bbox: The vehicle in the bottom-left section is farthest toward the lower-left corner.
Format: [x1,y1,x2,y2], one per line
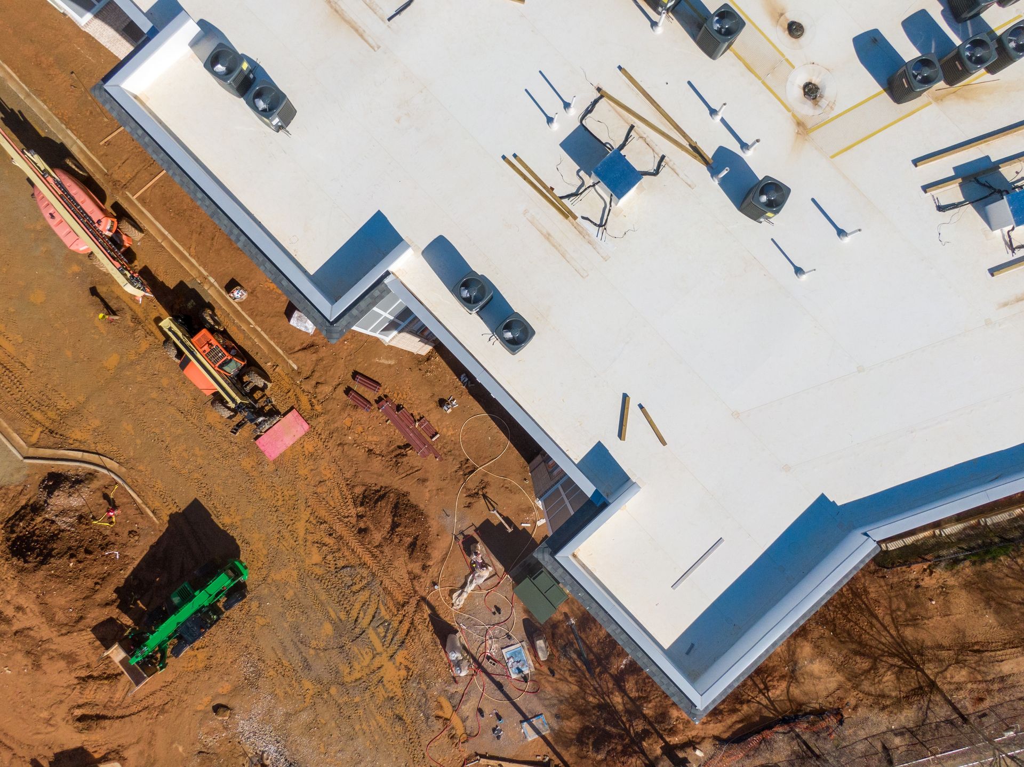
[97,551,254,697]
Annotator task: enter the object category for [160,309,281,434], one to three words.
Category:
work vehicle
